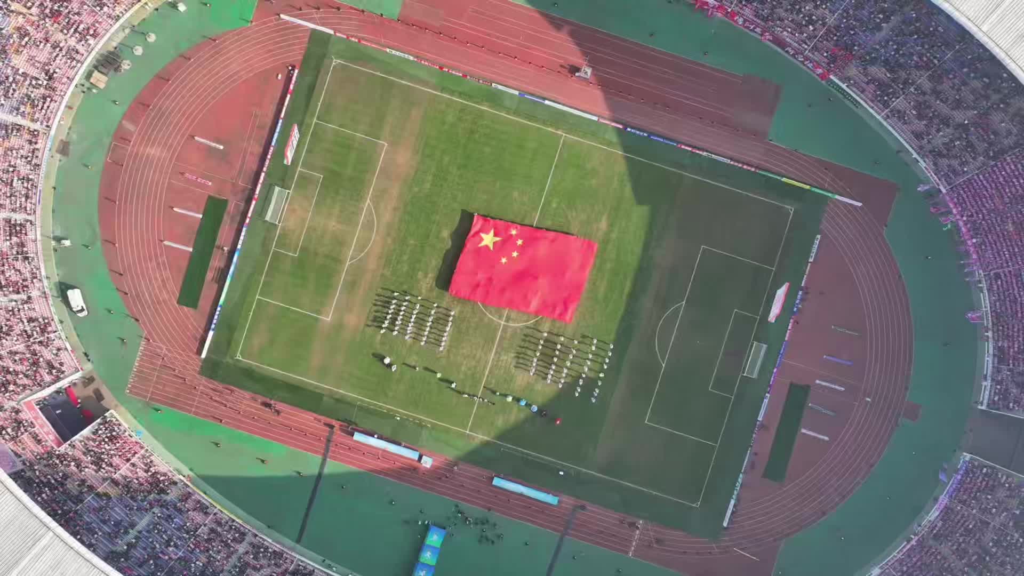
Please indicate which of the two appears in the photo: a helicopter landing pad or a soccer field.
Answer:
soccer field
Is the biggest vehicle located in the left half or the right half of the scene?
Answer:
left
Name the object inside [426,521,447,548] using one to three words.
tent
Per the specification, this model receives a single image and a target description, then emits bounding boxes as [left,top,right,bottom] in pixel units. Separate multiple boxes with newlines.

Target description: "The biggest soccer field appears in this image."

[200,29,827,539]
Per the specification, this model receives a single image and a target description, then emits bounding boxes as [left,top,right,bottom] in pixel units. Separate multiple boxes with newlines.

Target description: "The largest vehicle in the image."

[66,290,87,315]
